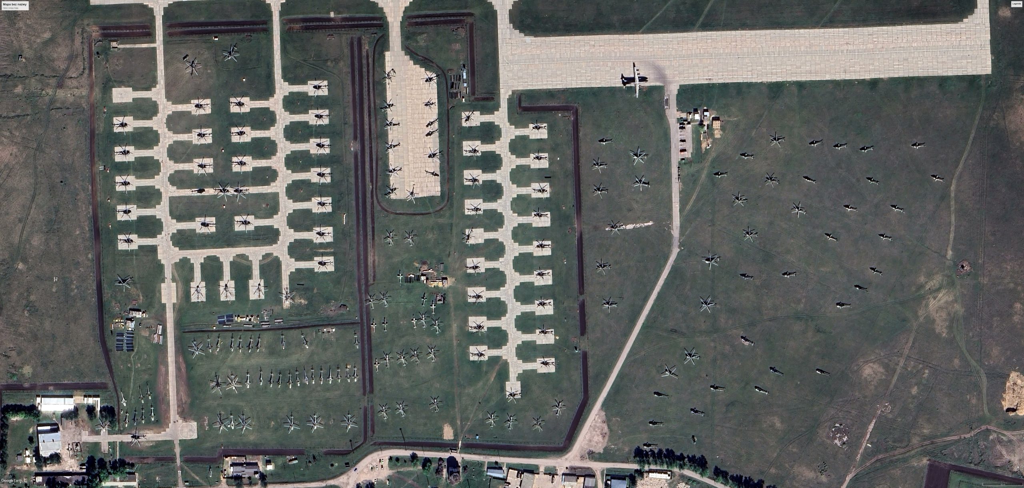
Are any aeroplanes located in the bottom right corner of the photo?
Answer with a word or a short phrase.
No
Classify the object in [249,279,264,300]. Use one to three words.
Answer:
helipad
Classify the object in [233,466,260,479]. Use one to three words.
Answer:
house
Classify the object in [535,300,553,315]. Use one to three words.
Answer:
helipad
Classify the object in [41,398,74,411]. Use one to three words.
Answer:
hangar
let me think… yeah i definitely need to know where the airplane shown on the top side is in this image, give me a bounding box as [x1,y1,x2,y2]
[621,67,648,97]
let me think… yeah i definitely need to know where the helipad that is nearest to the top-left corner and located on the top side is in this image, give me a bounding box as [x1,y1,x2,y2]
[112,87,132,103]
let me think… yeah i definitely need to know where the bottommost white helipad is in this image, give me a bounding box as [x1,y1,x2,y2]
[178,422,197,440]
